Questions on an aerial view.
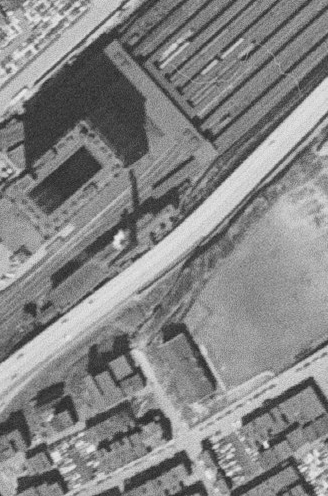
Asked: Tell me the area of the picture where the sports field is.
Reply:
right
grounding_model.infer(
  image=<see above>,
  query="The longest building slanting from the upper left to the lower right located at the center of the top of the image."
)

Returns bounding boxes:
[105,39,217,167]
